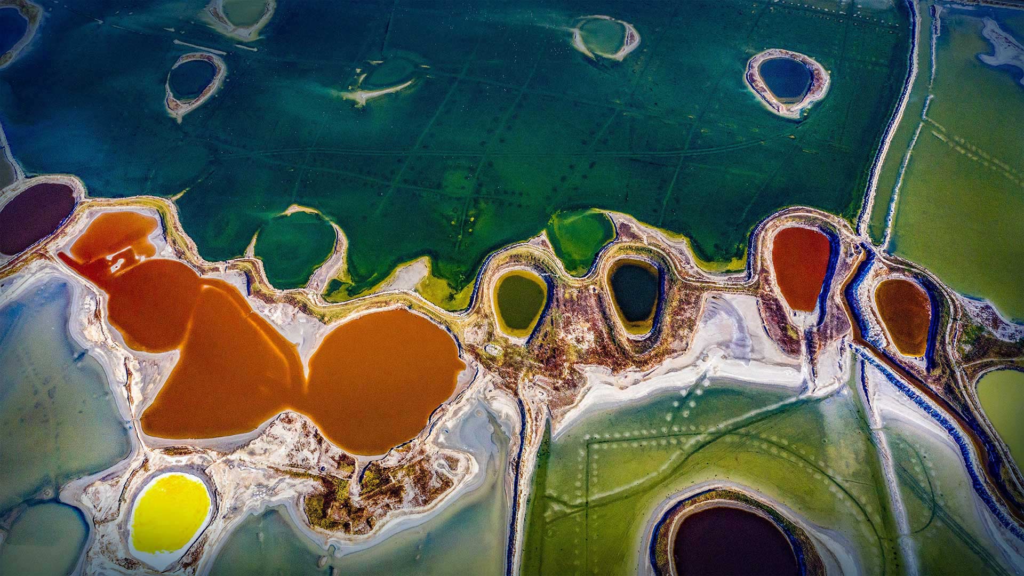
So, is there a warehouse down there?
No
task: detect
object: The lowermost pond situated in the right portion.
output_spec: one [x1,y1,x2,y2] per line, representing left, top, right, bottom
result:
[649,486,828,576]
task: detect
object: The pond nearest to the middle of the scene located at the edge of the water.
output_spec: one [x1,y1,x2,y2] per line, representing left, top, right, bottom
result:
[489,264,557,348]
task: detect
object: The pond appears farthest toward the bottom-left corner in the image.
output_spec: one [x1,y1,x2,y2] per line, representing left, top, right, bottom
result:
[121,466,217,576]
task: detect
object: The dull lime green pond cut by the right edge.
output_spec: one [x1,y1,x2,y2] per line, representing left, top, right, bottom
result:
[975,364,1024,475]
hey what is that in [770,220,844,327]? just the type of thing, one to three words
pond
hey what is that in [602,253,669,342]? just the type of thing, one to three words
pond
